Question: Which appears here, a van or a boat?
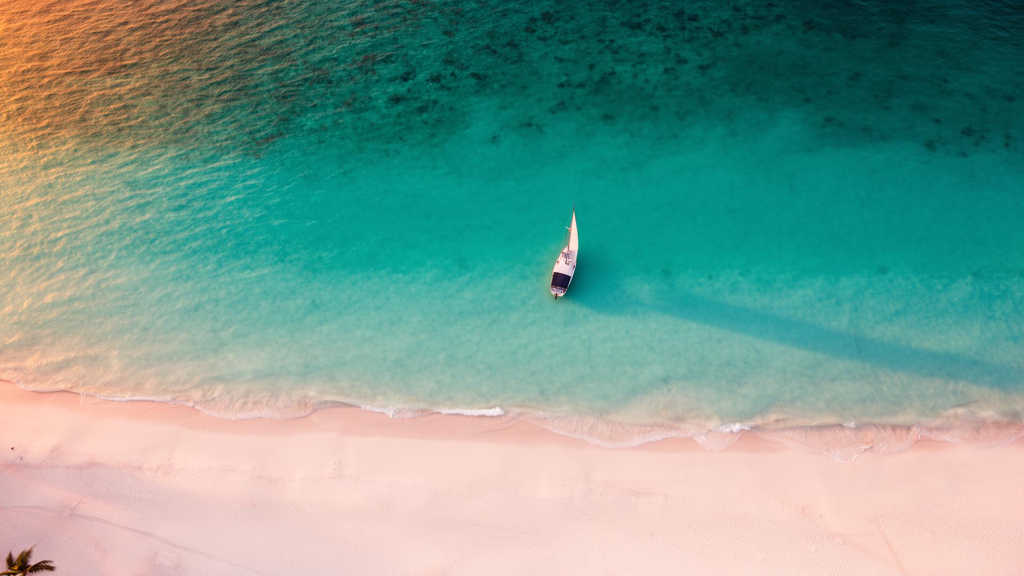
boat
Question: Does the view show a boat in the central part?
Yes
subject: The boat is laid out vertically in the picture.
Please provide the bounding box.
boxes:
[551,204,577,302]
